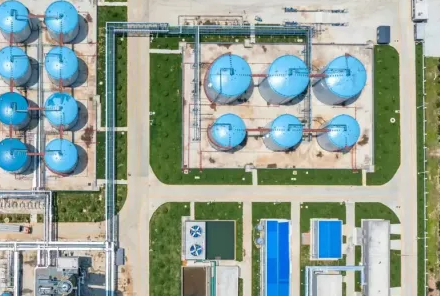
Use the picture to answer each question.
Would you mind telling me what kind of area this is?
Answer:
industrial area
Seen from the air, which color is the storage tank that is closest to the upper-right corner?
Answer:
blue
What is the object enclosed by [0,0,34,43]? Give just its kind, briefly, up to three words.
storage tank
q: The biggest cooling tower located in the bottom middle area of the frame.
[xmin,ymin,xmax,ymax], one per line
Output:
[184,221,206,259]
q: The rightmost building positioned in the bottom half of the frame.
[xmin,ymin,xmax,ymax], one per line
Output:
[360,219,390,296]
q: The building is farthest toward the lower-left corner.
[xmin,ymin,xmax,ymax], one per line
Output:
[56,255,81,270]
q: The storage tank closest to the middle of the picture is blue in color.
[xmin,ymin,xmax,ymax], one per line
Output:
[206,114,245,152]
